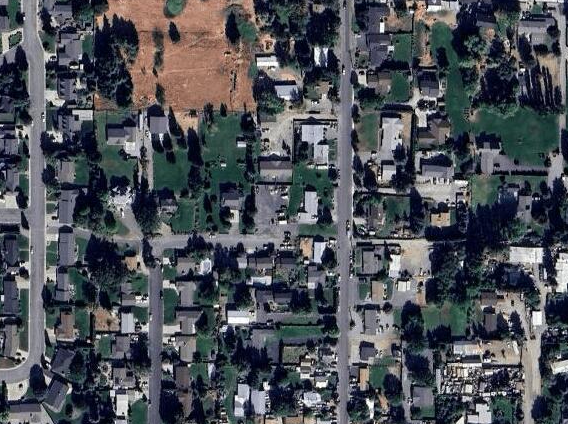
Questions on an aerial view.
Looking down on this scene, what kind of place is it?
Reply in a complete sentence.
The picture captures a residential area.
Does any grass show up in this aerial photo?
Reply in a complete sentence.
Yes, the picture does contain grass.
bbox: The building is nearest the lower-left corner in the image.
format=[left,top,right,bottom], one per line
[7,403,41,422]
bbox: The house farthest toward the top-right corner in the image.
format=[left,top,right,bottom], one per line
[518,17,554,44]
